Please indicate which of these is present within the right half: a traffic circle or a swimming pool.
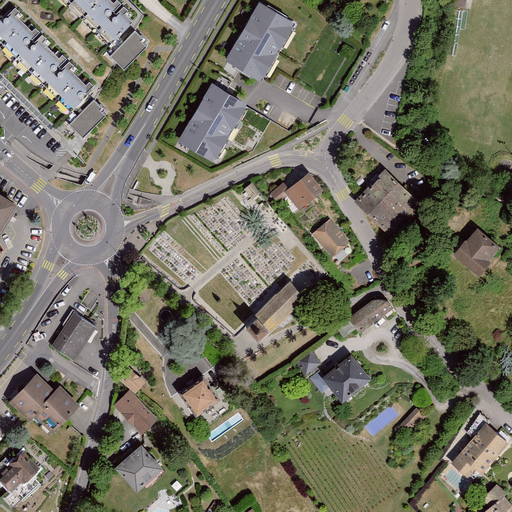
swimming pool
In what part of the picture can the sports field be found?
top right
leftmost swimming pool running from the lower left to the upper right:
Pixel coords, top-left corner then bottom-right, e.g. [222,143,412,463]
[210,413,244,442]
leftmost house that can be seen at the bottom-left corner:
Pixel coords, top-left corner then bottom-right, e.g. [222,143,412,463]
[0,451,42,494]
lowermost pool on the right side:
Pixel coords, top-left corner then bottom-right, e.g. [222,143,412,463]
[444,468,463,488]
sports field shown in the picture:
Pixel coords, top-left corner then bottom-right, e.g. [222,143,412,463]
[444,0,512,162]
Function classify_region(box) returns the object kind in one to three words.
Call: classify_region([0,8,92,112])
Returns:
building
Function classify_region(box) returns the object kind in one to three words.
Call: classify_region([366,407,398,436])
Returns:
swimming pool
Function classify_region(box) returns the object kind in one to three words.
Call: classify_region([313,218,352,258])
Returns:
house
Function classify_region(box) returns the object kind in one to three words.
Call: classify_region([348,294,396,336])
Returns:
house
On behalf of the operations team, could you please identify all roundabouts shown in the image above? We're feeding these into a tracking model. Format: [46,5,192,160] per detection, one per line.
[50,190,124,264]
